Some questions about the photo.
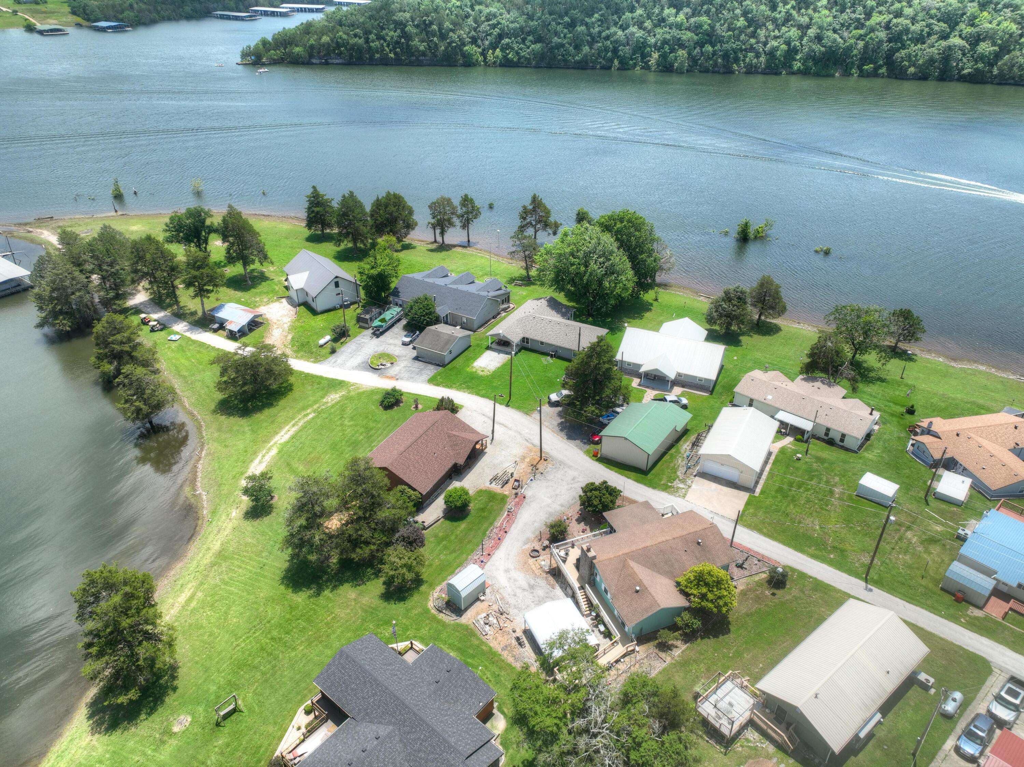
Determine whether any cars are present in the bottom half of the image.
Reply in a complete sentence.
Yes, a car shows up in the bottom half of the image.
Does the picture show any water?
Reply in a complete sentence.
Yes, water can be seen from above here.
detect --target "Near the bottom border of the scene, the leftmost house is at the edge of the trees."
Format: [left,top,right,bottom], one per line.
[280,634,506,767]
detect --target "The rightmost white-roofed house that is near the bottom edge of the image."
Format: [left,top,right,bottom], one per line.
[753,600,931,767]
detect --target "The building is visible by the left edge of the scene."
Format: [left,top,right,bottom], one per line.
[0,257,40,303]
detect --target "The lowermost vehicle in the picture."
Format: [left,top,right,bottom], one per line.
[959,711,999,762]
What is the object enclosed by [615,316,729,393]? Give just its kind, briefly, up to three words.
house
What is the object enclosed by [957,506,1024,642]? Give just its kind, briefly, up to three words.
house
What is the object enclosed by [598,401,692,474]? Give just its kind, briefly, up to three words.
barn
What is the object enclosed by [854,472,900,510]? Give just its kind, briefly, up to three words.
shed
